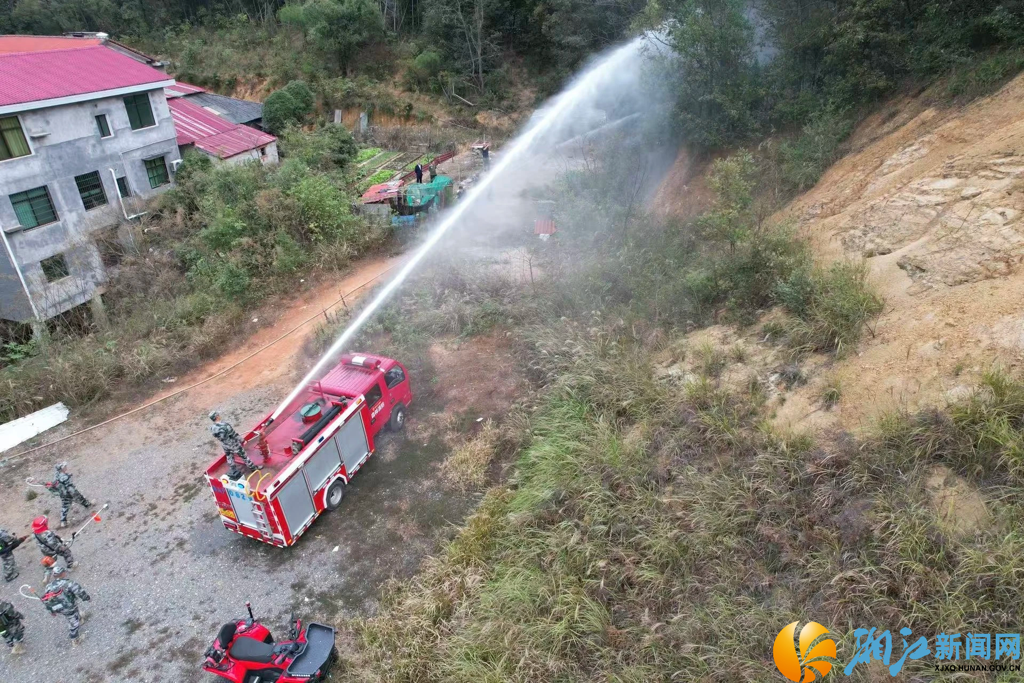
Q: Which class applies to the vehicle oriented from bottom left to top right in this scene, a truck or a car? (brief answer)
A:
truck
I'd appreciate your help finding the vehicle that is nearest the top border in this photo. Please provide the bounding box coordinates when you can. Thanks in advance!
[208,354,412,549]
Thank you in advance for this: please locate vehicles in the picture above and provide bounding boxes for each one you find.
[204,603,342,683]
[208,354,412,549]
